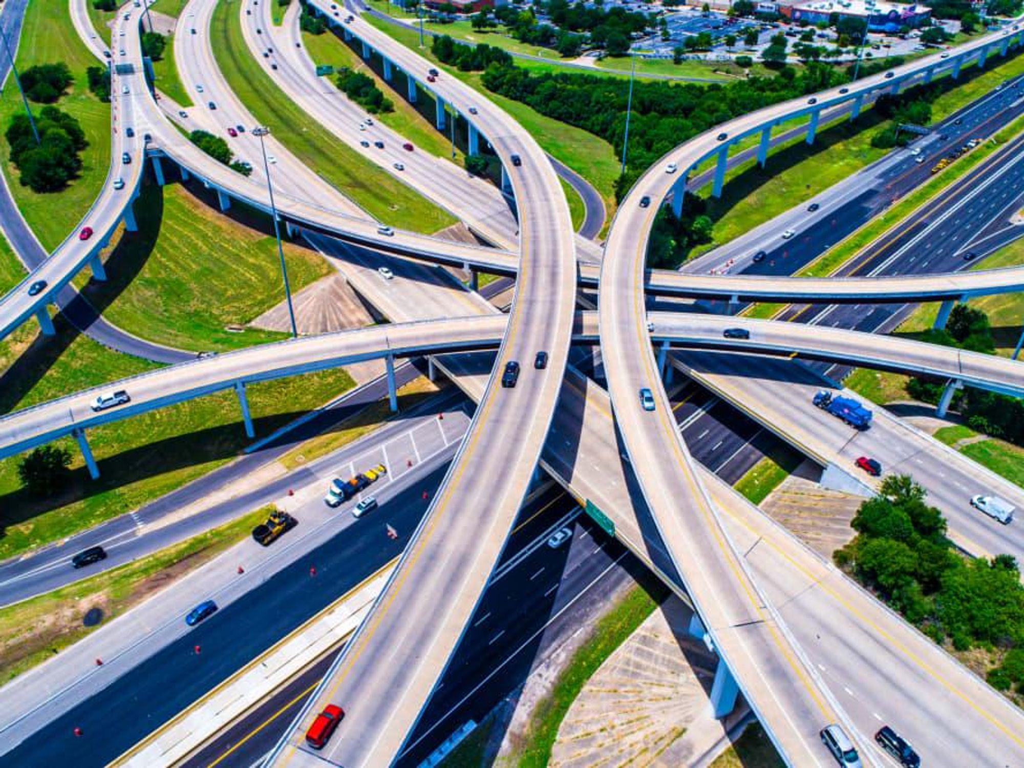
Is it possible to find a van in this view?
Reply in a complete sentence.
Yes, there's a van here.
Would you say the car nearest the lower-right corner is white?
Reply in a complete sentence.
No, the color of the car nearest the lower-right corner is black.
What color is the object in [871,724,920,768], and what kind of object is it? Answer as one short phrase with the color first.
black car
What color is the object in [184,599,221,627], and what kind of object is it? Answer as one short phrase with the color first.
blue car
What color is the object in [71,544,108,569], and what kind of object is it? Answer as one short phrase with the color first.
black car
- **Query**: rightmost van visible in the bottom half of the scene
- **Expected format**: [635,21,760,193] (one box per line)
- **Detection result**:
[968,497,1020,527]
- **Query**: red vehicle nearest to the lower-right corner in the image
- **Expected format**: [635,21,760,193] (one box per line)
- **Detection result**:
[854,458,884,477]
